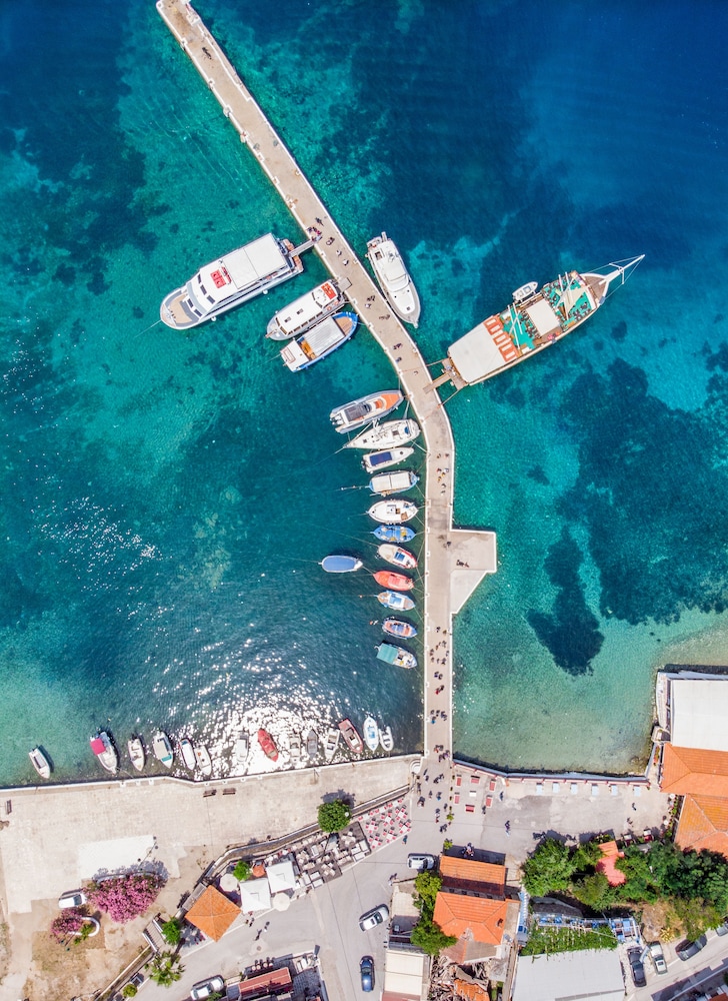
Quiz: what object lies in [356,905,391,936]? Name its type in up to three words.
car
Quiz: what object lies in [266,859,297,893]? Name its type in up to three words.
umbrella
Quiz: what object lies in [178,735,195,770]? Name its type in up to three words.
boat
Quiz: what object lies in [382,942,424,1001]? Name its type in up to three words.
house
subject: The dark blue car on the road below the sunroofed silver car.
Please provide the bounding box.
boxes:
[359,958,376,996]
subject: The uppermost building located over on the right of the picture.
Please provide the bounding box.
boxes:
[651,663,728,751]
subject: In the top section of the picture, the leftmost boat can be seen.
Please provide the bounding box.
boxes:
[158,234,304,325]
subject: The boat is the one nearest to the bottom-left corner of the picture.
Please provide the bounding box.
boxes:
[27,748,51,779]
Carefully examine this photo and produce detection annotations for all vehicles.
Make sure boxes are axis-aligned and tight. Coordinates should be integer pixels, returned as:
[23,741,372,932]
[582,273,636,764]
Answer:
[406,854,441,875]
[188,977,225,1001]
[674,935,712,970]
[649,942,672,980]
[53,891,87,913]
[356,905,391,936]
[626,949,651,992]
[359,958,376,996]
